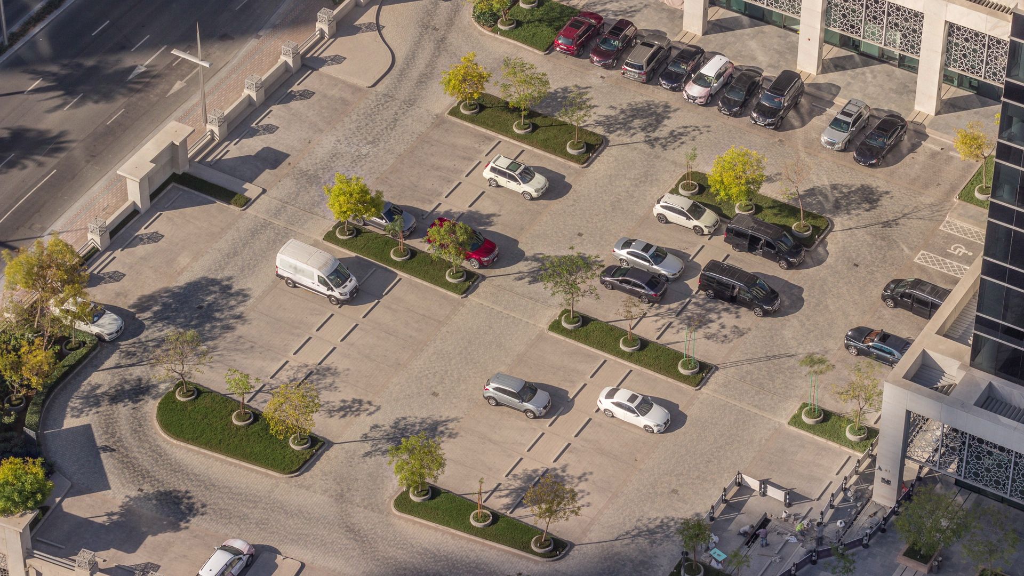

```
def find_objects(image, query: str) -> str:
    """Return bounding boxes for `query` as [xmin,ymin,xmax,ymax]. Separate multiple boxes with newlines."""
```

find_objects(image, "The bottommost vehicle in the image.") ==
[193,538,255,576]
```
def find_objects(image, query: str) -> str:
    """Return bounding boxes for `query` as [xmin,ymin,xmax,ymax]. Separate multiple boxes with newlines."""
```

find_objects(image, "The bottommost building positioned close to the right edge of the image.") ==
[873,244,1024,510]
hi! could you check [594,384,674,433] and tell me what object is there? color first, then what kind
white car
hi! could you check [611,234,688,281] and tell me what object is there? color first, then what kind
gray car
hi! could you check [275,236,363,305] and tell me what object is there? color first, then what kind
white van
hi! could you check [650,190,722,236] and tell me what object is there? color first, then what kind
white car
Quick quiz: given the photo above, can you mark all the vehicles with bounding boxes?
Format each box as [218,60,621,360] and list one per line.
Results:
[481,151,551,200]
[481,371,555,419]
[819,97,873,152]
[424,213,502,269]
[594,384,674,433]
[715,67,766,117]
[650,190,722,236]
[611,234,688,281]
[275,236,363,305]
[193,538,255,576]
[682,55,735,106]
[657,42,707,91]
[589,17,640,69]
[552,11,605,59]
[877,275,951,317]
[852,114,910,168]
[598,262,674,306]
[839,325,913,367]
[724,210,810,270]
[749,71,806,131]
[697,258,785,317]
[620,34,673,86]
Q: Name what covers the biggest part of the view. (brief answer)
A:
paved ground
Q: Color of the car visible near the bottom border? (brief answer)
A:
white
